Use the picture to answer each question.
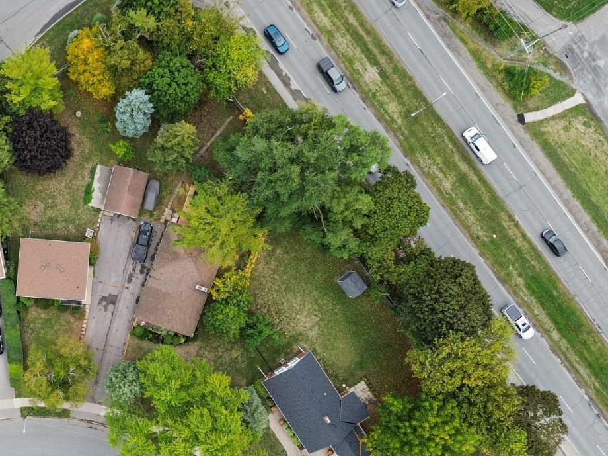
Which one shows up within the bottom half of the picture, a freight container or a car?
car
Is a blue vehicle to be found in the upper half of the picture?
Yes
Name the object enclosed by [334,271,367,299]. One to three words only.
shed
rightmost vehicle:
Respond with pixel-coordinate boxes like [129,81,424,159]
[540,229,570,260]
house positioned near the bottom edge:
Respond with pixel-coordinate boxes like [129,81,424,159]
[258,349,372,456]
